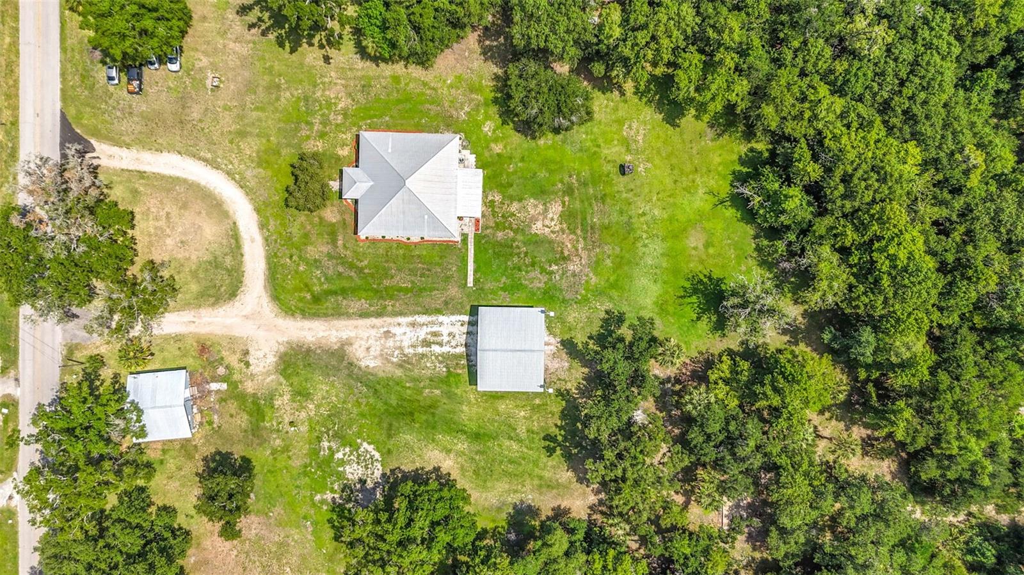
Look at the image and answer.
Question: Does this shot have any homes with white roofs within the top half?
Yes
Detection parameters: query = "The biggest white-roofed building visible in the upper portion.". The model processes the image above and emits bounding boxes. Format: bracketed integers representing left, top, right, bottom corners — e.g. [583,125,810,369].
[342,131,484,238]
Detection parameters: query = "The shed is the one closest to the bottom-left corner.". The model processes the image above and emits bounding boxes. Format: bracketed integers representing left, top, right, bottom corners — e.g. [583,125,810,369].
[124,367,199,443]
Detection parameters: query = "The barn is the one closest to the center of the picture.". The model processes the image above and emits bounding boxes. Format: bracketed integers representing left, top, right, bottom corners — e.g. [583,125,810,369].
[477,307,545,392]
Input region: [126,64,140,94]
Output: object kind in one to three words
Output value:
vehicle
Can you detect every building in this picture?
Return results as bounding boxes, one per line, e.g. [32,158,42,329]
[342,131,484,238]
[124,367,199,443]
[477,307,545,392]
